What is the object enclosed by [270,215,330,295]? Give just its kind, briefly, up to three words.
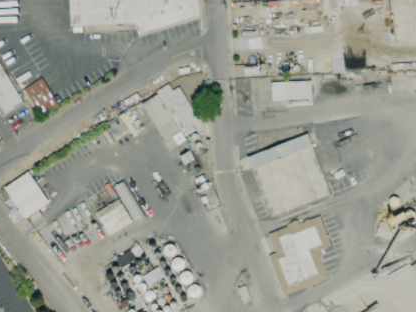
building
